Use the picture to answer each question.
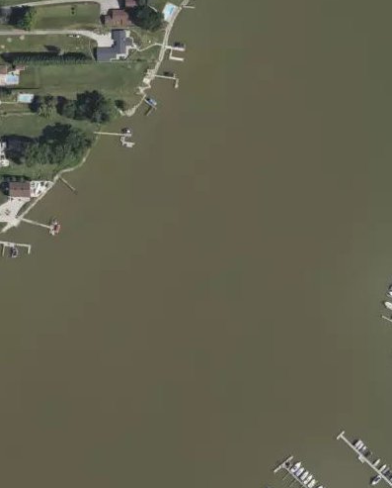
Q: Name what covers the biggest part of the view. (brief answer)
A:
water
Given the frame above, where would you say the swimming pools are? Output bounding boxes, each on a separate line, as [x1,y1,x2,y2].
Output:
[17,94,34,103]
[5,74,19,85]
[163,1,177,19]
